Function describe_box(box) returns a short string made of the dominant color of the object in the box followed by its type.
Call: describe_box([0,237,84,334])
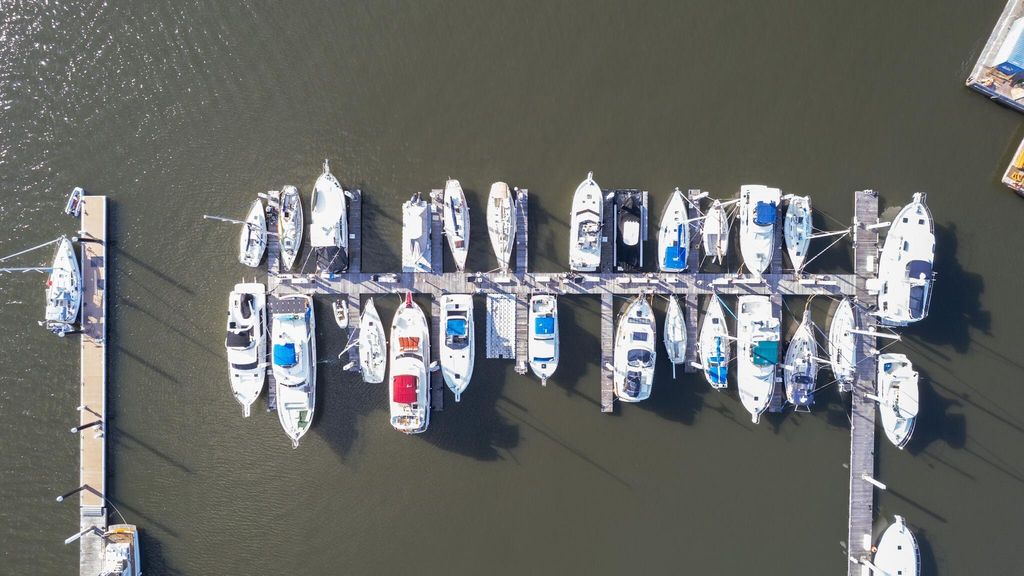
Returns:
white boat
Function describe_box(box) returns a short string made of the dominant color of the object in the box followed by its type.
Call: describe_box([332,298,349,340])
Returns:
white boat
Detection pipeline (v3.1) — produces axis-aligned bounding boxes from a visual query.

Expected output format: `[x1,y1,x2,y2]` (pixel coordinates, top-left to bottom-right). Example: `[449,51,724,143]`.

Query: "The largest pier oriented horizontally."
[268,273,854,294]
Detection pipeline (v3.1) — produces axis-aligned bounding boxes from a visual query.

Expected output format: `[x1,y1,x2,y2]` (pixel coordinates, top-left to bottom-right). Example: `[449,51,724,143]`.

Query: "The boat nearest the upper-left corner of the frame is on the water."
[66,187,83,217]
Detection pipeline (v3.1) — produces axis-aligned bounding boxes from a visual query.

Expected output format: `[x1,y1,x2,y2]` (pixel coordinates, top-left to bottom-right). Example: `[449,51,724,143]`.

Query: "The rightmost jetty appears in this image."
[847,191,878,576]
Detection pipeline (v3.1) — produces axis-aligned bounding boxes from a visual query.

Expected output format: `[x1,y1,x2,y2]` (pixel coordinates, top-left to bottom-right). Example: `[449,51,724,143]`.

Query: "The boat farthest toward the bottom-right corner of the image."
[869,512,921,576]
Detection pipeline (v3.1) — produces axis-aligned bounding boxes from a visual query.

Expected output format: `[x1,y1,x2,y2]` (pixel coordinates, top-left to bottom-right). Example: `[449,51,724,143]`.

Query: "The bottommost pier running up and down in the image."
[80,506,108,576]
